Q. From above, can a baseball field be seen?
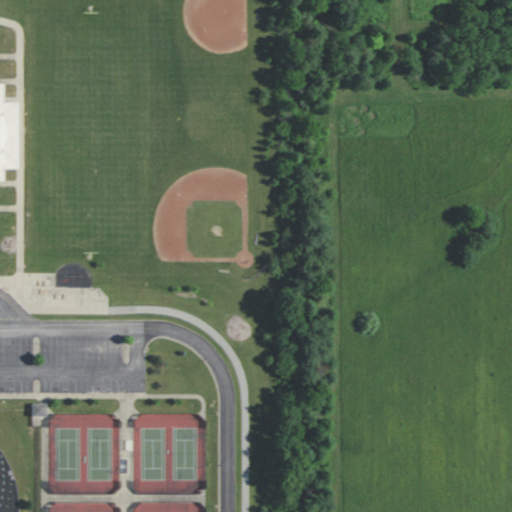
Yes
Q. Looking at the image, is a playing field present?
Yes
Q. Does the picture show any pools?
No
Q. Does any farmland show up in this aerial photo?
Yes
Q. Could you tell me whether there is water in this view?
No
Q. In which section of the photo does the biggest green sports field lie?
top left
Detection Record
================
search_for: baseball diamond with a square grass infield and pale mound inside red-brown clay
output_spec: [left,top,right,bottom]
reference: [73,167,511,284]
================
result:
[154,168,254,268]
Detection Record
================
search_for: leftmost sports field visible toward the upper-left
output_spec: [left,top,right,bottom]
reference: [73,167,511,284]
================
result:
[36,14,144,252]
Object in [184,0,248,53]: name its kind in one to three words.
baseball field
